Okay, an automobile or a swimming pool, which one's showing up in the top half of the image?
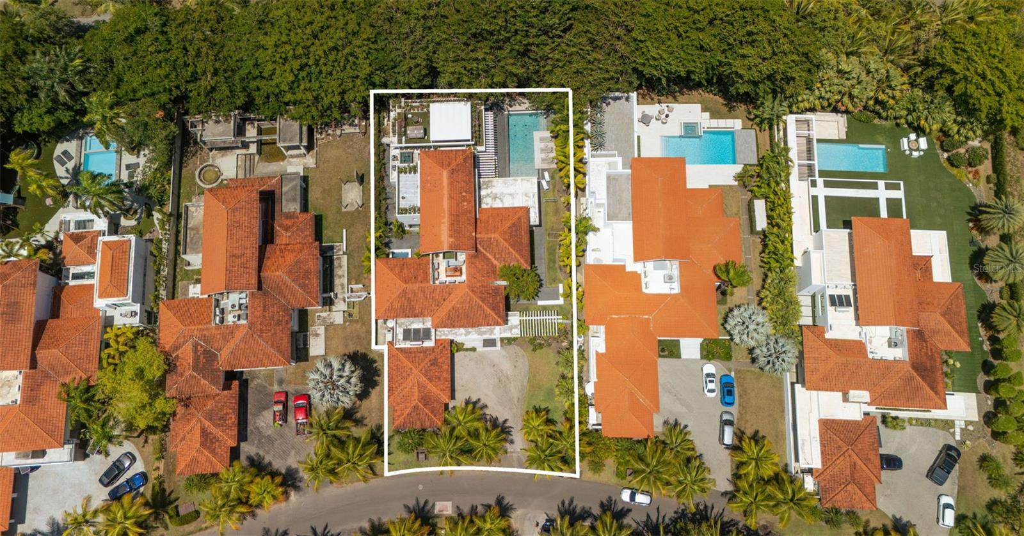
swimming pool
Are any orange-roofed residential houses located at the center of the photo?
Yes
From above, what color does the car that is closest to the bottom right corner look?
white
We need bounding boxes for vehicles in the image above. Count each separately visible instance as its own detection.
[100,453,136,487]
[718,375,735,407]
[718,411,736,447]
[272,391,289,427]
[618,487,653,506]
[14,464,45,477]
[110,473,148,499]
[292,396,311,438]
[935,494,957,528]
[879,454,903,470]
[700,363,718,397]
[927,444,957,488]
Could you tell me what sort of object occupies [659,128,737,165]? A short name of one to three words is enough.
swimming pool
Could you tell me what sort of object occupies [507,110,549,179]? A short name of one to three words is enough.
swimming pool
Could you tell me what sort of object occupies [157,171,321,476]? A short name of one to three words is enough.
house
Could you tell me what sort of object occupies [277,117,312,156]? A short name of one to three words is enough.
building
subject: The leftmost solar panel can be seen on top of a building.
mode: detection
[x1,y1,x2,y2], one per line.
[403,327,431,345]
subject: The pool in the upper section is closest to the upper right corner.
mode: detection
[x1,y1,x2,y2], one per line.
[817,143,888,173]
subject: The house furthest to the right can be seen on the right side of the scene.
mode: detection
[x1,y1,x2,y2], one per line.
[789,216,972,511]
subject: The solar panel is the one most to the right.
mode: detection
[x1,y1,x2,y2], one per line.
[828,294,852,311]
